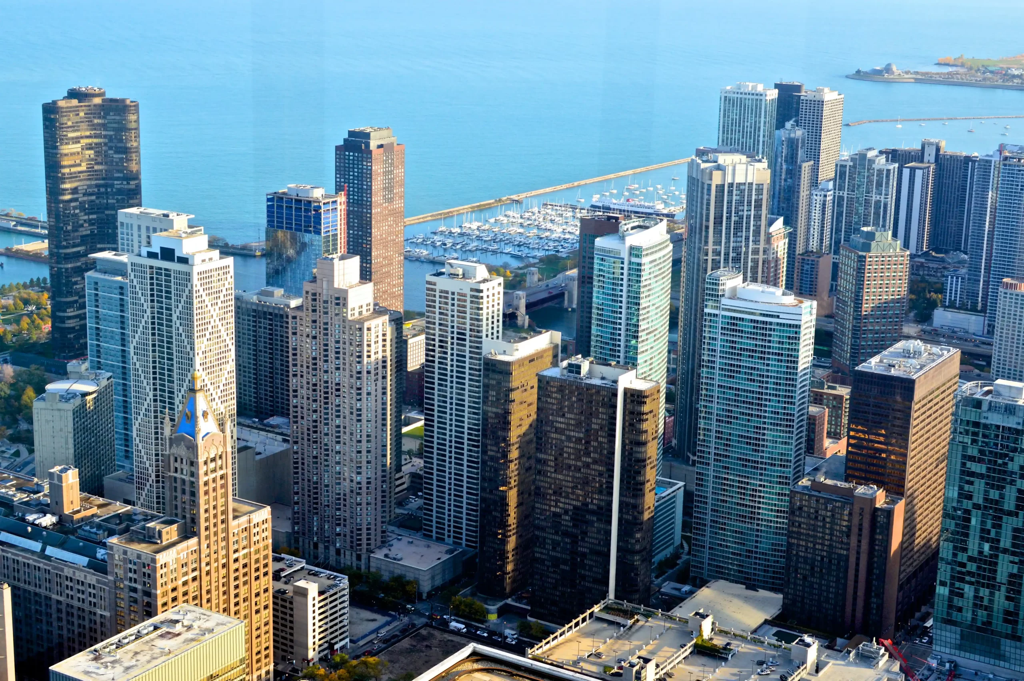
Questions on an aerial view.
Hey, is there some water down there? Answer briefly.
Yes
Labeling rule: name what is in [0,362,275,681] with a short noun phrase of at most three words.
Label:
building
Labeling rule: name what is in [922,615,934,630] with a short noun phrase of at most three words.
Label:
vehicle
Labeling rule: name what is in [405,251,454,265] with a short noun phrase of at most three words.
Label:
pier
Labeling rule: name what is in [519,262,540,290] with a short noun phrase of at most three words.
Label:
house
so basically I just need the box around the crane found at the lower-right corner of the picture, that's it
[882,629,955,681]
